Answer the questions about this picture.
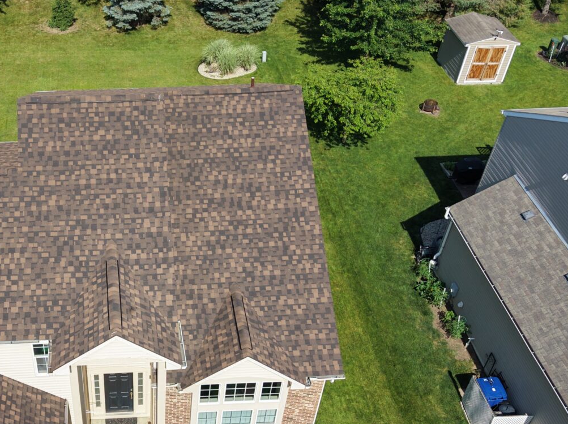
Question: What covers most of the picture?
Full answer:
The scene is dominated by buildings.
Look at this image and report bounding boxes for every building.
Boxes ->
[0,67,346,424]
[440,5,522,82]
[438,106,568,424]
